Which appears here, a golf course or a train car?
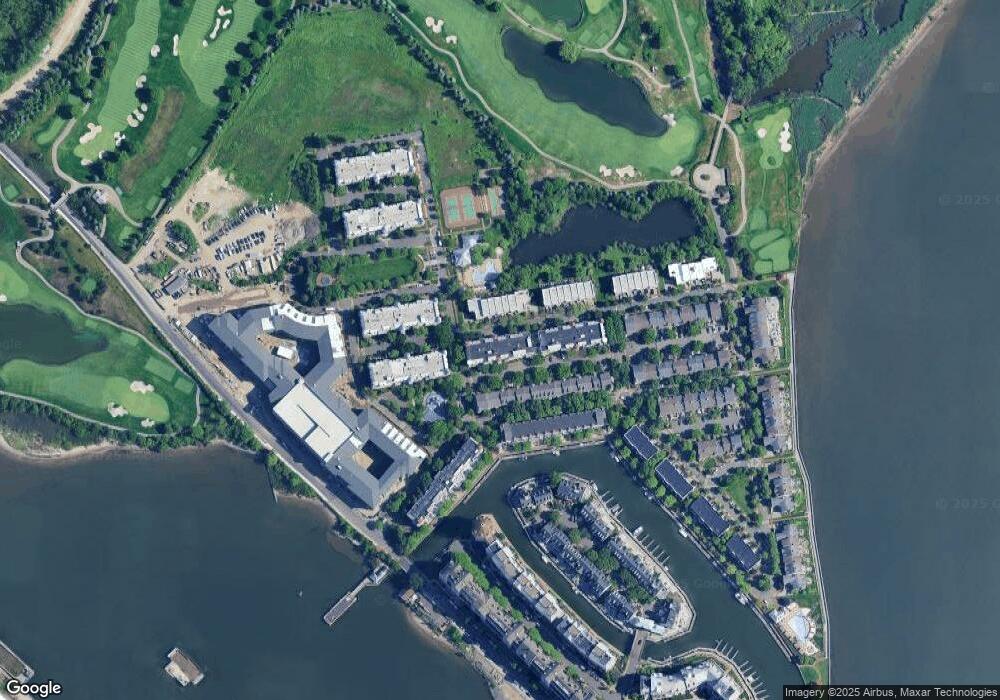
golf course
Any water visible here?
Yes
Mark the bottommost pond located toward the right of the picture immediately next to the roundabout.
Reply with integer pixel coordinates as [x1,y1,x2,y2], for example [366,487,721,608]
[511,198,699,265]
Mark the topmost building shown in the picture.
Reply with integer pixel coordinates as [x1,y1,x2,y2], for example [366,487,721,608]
[334,147,414,186]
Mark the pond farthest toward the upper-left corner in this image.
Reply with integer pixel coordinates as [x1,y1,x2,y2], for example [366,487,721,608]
[0,304,108,368]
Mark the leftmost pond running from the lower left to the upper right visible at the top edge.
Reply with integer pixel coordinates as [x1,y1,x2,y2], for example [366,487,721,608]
[745,18,863,104]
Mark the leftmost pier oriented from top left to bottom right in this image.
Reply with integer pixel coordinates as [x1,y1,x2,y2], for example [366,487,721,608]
[0,640,34,684]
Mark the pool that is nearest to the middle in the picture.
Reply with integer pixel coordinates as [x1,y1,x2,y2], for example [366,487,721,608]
[460,258,502,288]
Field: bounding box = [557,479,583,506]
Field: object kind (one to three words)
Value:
house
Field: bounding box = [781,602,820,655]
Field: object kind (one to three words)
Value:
swimming pool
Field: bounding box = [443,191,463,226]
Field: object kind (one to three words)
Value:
tennis court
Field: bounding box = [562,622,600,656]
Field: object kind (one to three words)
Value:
building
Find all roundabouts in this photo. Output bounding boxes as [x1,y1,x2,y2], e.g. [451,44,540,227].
[691,163,729,195]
